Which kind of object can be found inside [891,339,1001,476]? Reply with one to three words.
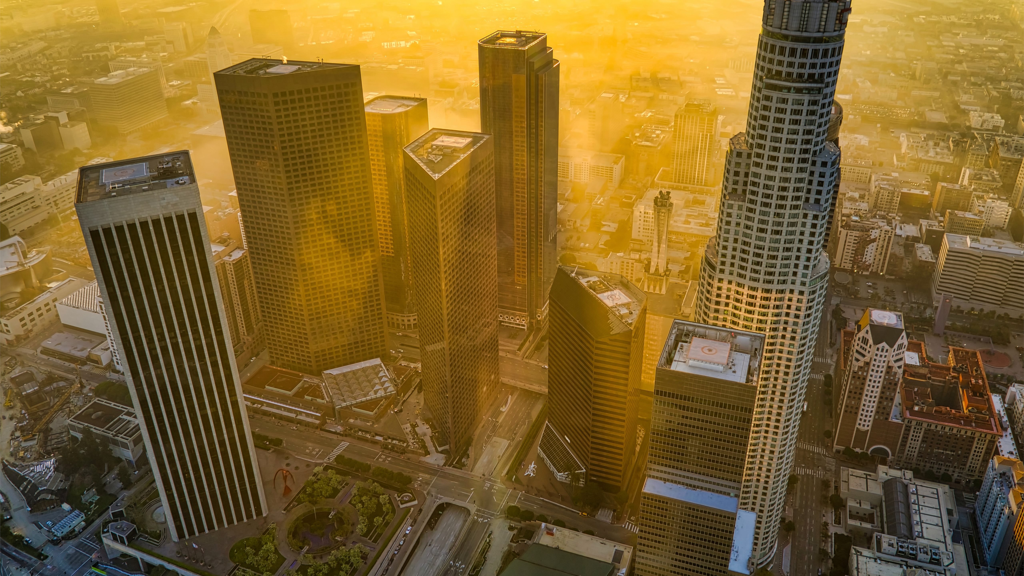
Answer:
building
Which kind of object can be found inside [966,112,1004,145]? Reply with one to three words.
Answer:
building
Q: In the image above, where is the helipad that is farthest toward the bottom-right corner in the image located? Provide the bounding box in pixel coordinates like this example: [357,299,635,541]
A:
[905,351,919,365]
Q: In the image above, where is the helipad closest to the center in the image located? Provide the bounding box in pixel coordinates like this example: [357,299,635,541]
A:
[596,289,632,309]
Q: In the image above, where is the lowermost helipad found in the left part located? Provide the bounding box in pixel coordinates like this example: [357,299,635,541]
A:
[103,163,146,183]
